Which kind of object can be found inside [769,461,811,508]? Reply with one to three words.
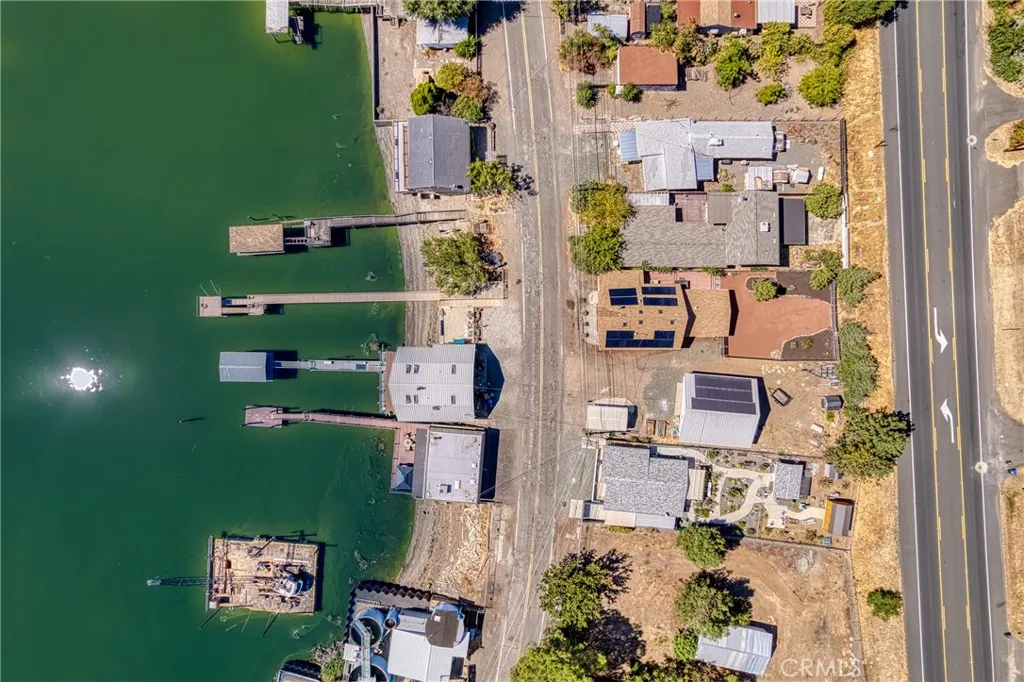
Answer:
shed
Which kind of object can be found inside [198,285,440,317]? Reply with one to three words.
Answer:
pier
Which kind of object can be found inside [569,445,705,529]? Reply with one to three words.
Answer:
house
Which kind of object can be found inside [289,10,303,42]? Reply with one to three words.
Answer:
boat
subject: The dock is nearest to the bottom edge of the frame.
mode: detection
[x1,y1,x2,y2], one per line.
[245,405,401,430]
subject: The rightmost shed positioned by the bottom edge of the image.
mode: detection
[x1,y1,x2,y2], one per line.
[694,621,772,675]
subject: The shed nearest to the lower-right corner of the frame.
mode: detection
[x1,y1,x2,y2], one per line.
[823,498,855,536]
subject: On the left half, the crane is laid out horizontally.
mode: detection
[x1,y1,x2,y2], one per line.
[144,553,314,599]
